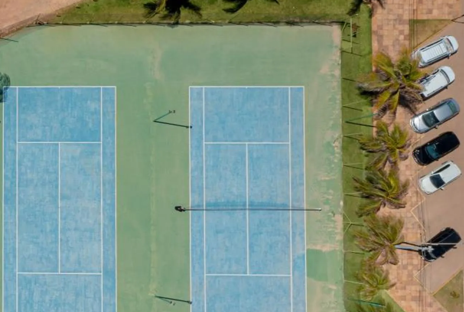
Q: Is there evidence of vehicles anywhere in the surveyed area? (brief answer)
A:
Yes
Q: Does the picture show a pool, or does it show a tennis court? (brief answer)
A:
tennis court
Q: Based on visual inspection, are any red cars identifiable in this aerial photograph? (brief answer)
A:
No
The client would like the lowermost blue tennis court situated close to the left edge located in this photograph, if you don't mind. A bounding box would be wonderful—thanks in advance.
[2,86,117,312]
